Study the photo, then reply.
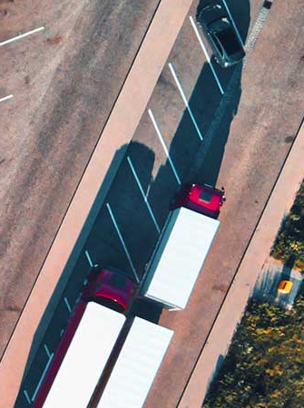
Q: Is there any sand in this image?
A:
No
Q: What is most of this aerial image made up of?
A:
paved ground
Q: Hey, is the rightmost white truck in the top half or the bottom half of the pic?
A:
bottom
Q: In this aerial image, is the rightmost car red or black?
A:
black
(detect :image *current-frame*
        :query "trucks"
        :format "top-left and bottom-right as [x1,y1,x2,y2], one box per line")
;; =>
[85,178,226,408]
[31,266,135,408]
